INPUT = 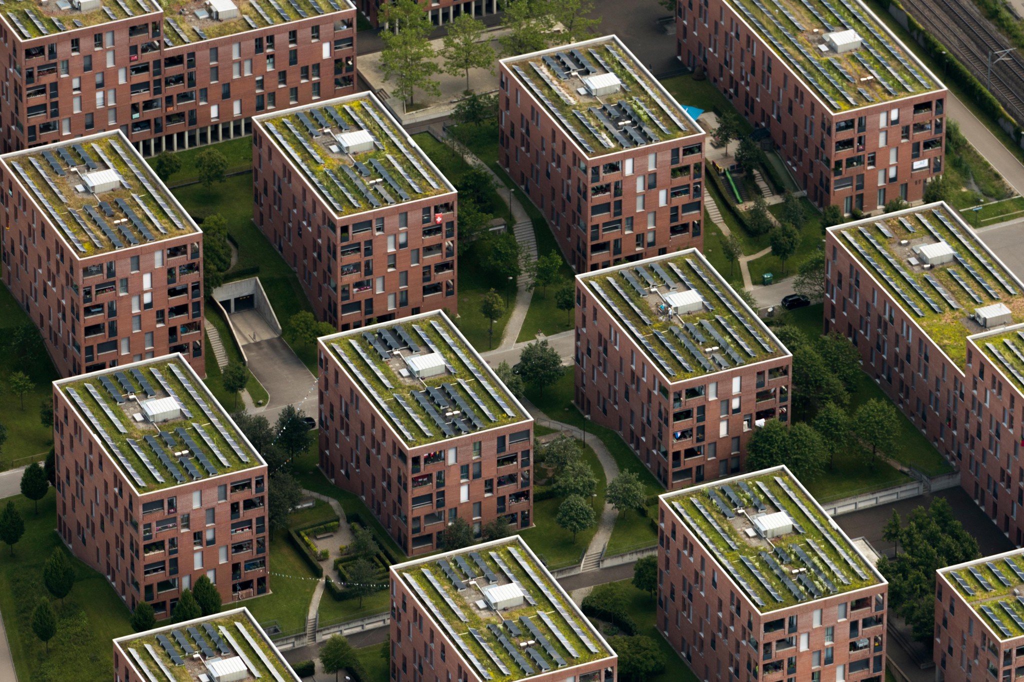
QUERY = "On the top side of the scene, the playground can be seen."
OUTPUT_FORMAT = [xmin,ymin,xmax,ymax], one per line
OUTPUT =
[692,110,742,165]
